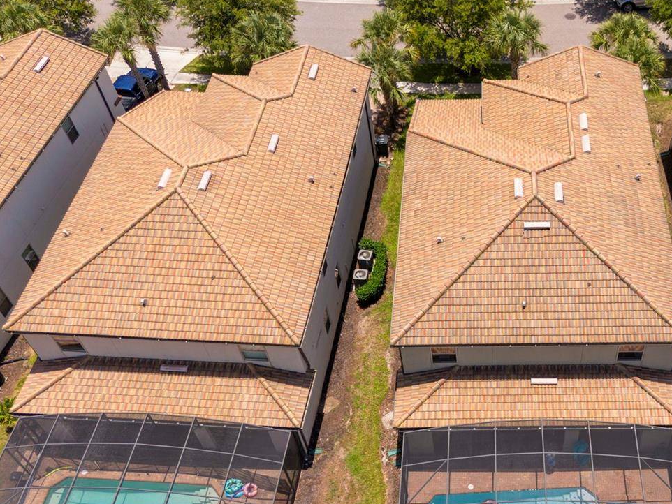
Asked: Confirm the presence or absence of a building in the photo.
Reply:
Yes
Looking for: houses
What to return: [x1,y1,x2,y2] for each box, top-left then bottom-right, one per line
[386,44,672,447]
[0,44,380,446]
